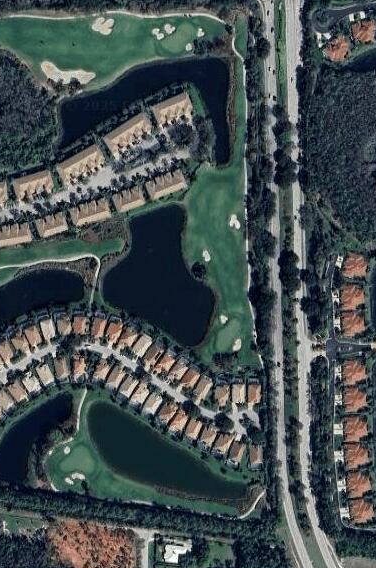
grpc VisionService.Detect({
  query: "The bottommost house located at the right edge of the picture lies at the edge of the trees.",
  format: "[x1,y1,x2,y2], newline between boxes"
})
[350,496,375,523]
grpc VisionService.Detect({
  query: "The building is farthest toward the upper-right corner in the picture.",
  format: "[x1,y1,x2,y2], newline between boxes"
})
[351,18,375,42]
